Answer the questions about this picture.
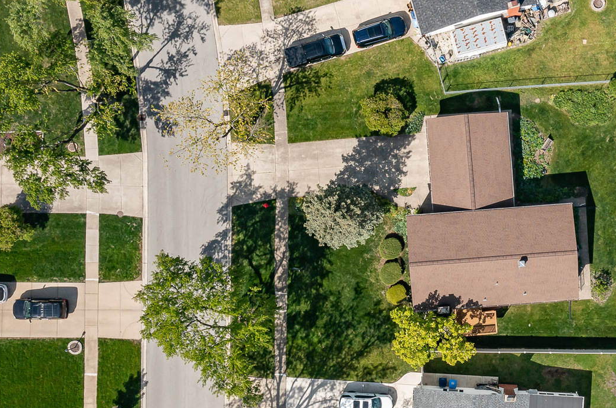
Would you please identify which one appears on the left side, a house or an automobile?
automobile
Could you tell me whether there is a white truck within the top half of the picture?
No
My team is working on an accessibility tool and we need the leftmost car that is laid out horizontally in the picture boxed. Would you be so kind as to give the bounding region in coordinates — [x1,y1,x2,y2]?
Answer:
[12,296,69,323]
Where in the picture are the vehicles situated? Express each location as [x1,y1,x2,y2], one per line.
[351,17,408,50]
[281,32,347,66]
[0,283,9,304]
[338,391,394,408]
[12,296,69,323]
